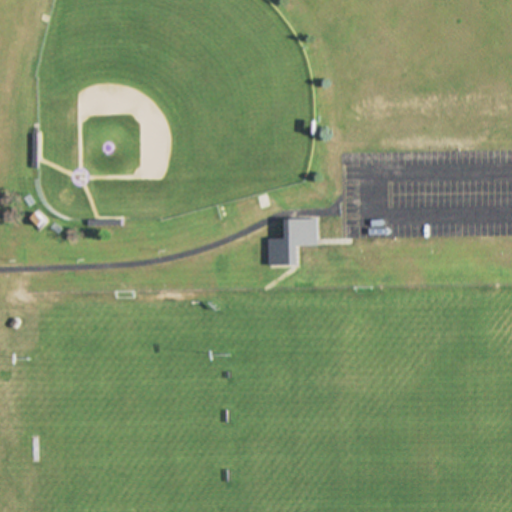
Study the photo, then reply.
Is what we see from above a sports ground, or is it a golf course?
sports ground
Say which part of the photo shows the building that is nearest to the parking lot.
center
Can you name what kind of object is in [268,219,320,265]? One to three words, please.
building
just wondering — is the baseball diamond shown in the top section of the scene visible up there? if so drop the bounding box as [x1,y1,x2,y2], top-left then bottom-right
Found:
[38,0,316,222]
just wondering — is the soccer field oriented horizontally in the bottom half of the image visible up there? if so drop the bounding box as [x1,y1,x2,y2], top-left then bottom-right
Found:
[0,286,512,512]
